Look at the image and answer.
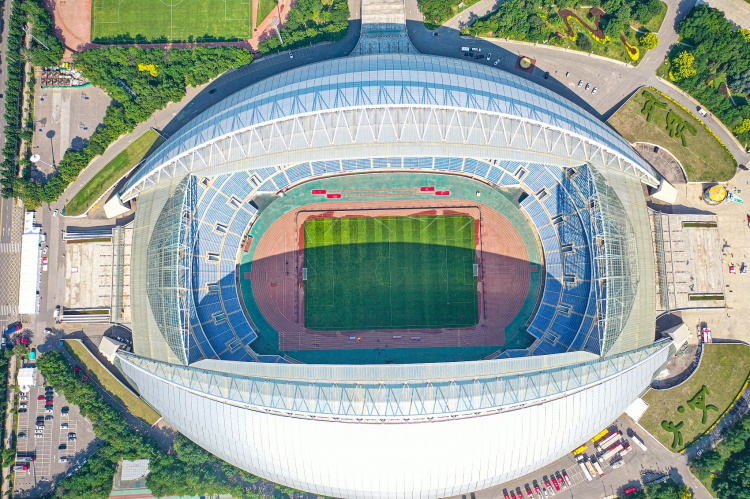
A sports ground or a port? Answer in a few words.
sports ground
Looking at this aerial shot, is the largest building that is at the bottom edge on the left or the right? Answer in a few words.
left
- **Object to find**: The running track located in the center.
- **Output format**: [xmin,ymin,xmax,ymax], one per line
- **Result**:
[237,171,544,365]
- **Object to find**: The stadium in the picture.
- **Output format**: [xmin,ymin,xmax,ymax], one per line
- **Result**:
[99,51,691,499]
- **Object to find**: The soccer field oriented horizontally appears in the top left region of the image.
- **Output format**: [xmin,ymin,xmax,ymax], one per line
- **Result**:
[89,0,252,42]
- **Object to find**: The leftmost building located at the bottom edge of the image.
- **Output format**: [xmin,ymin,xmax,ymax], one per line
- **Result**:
[122,459,152,480]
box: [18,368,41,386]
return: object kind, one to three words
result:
tent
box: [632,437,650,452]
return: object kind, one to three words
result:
vehicle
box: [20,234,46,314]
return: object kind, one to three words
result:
tent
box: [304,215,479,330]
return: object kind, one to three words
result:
soccer field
